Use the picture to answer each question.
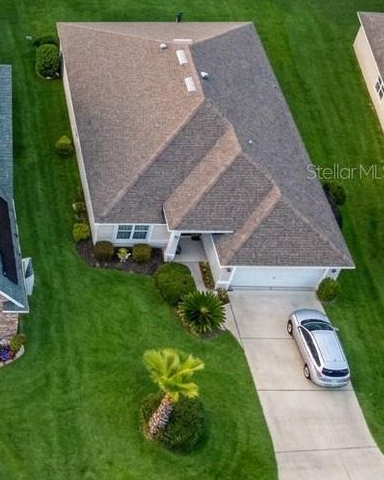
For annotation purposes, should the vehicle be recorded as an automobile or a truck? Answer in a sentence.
I'd identify the vehicle as an automobile.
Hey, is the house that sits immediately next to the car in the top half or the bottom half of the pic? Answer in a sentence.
The top half of the photo is where the house that sits immediately next to the car is.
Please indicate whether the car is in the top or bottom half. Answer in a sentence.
Seen from above, the car lies in the bottom half of the view.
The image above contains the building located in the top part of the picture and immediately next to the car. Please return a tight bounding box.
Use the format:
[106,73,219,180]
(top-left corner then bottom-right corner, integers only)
[56,21,356,289]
